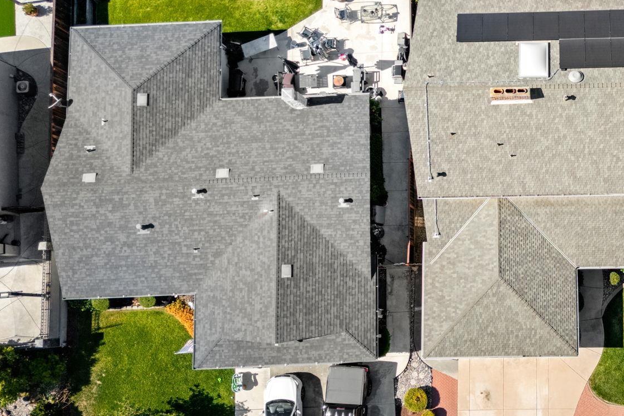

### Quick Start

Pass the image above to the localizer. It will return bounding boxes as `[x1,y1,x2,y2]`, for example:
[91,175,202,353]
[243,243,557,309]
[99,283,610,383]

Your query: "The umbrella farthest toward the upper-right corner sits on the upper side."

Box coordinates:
[347,54,361,74]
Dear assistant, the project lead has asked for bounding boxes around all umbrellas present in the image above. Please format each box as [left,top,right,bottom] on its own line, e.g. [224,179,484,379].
[281,56,304,77]
[347,54,361,74]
